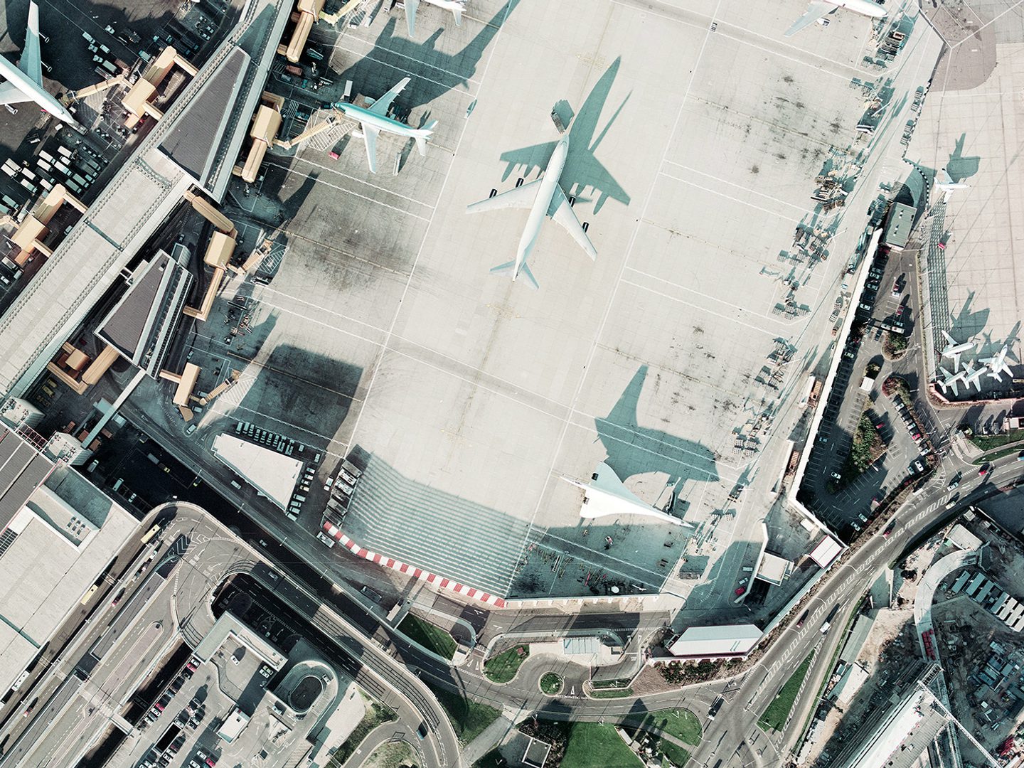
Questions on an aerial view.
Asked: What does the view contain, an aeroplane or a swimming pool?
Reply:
aeroplane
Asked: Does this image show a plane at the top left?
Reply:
Yes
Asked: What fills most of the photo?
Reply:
paved ground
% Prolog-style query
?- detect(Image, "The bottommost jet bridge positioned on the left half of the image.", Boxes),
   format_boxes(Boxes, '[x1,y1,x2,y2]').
[191,370,241,405]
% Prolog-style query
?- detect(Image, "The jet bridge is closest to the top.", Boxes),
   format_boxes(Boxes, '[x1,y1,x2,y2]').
[321,0,366,25]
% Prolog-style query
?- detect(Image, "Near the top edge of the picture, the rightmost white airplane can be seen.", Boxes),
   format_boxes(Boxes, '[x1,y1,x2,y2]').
[779,0,888,36]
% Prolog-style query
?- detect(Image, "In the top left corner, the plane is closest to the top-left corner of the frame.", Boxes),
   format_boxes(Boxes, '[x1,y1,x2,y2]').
[0,1,74,123]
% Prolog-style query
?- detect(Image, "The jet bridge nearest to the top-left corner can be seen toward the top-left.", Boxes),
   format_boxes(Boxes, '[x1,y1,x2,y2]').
[62,71,133,104]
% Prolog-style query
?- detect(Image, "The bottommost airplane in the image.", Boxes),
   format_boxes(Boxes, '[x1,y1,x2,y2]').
[561,462,693,527]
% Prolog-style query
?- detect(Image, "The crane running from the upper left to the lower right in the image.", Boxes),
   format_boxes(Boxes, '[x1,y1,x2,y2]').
[911,677,1010,768]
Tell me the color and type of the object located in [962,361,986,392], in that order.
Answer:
white airplane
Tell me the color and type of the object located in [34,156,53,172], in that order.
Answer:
white vehicle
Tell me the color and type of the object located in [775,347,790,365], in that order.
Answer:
gray work vehicle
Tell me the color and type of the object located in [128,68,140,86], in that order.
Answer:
white vehicle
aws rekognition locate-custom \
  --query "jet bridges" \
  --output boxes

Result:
[191,370,241,405]
[227,236,273,275]
[62,71,133,104]
[321,0,366,25]
[277,111,340,152]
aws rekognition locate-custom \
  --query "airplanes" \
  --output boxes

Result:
[779,0,888,36]
[561,462,693,527]
[466,136,597,285]
[939,365,964,397]
[939,330,976,373]
[332,76,432,171]
[980,346,1013,380]
[962,361,986,392]
[396,0,466,41]
[935,167,970,204]
[0,1,74,123]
